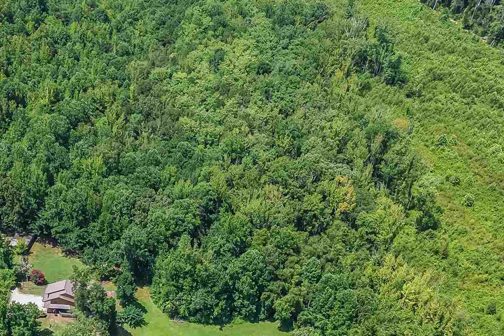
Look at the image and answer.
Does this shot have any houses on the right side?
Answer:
No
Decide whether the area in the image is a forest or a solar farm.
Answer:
forest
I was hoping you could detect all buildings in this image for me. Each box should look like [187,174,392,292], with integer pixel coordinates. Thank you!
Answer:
[42,270,88,314]
[11,233,34,253]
